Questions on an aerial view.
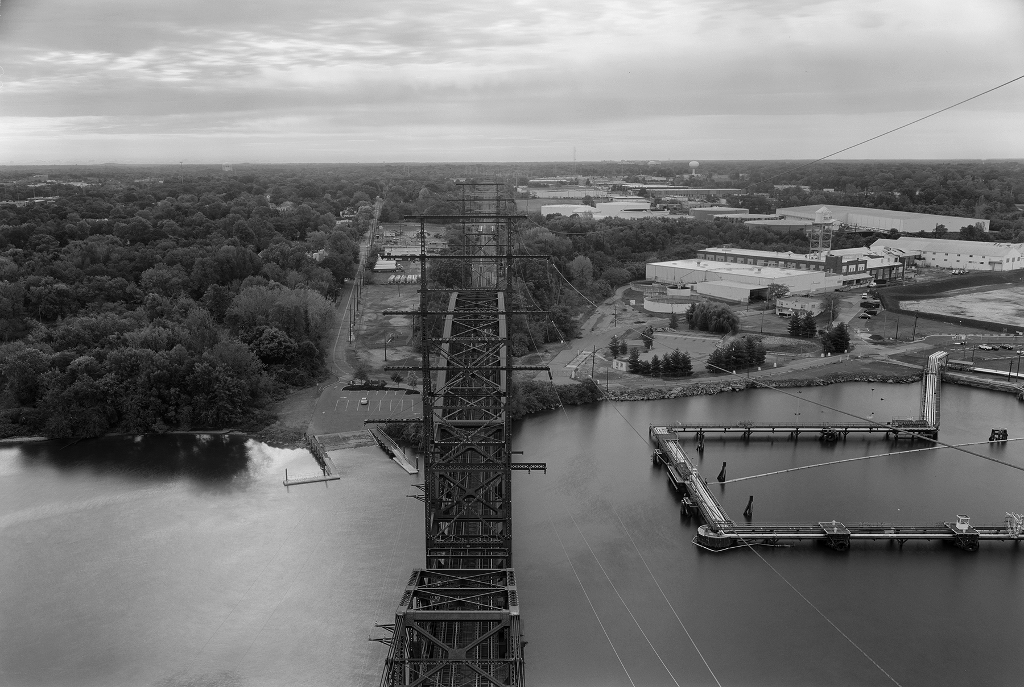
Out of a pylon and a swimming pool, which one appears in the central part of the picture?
pylon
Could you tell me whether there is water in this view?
Yes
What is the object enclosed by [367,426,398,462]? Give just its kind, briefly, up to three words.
pier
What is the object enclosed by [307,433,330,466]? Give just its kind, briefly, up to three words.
pier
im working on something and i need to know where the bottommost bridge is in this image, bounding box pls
[369,564,531,687]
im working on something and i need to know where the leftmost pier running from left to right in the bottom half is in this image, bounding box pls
[284,466,340,488]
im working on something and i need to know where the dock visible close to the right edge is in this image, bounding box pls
[649,346,1024,559]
